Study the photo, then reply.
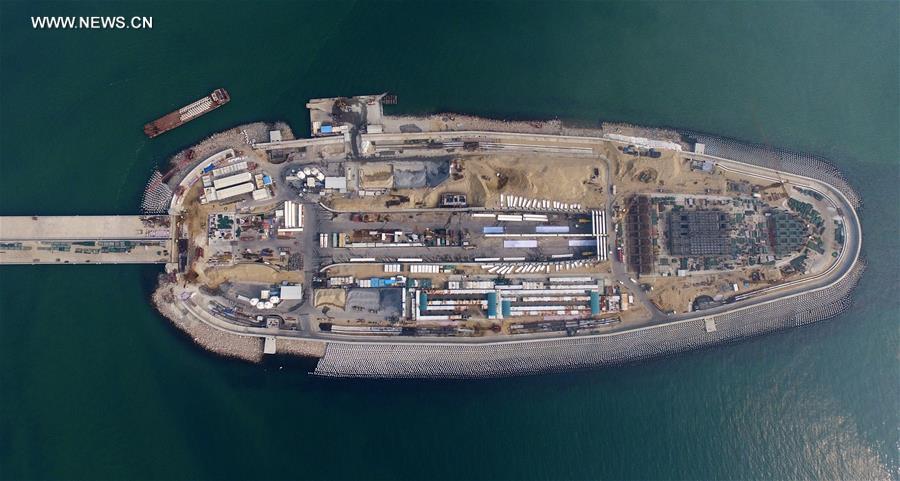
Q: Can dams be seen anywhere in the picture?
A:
No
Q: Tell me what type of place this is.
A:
port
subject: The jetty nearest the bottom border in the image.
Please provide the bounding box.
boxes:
[305,95,383,139]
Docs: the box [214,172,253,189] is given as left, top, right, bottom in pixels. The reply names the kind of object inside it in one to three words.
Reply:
building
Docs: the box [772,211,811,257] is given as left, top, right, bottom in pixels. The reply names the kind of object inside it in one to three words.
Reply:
building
